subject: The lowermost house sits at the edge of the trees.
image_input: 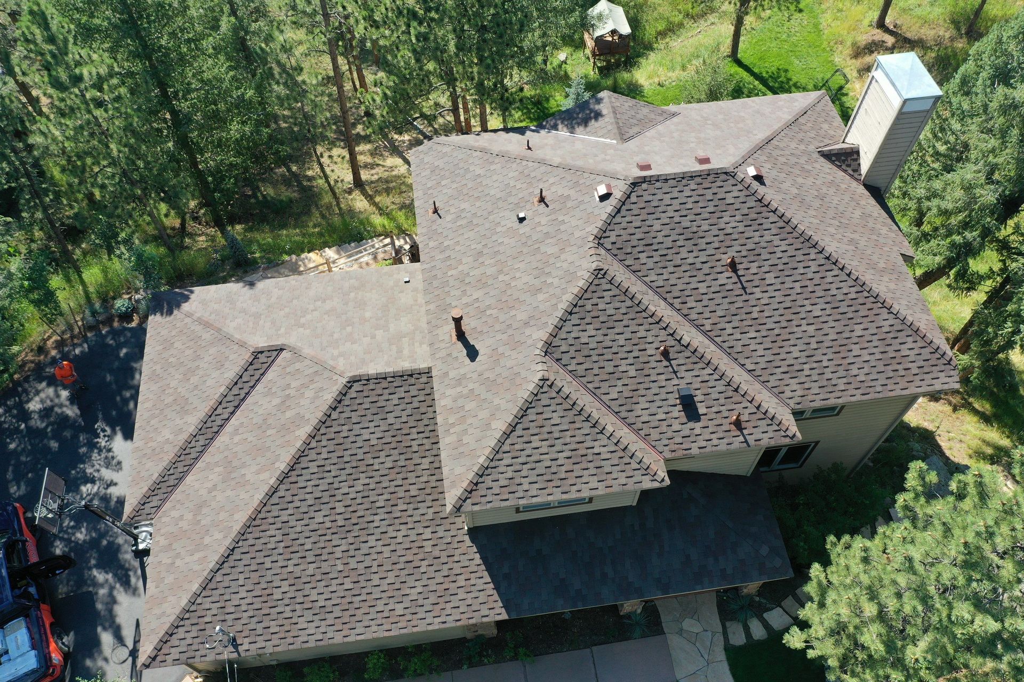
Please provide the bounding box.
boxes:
[125,55,960,682]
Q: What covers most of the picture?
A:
buildings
